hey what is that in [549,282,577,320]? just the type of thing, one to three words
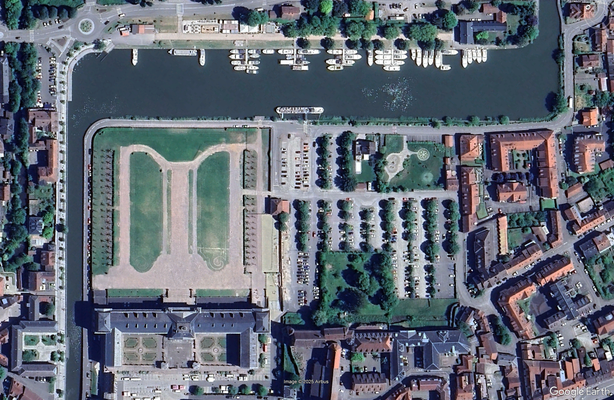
building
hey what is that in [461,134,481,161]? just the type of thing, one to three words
house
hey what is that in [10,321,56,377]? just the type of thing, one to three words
house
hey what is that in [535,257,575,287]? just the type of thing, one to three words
building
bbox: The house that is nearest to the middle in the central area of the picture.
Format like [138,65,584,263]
[270,198,290,214]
